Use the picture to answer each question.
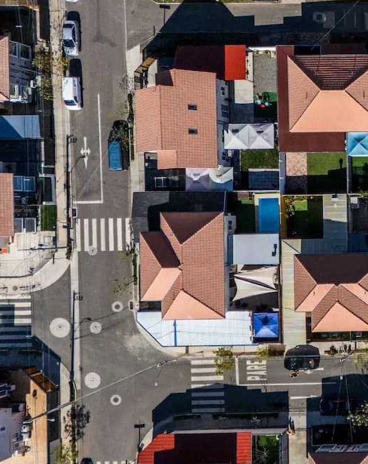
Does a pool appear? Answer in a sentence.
Yes, the photo shows a pool.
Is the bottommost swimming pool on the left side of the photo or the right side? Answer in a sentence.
You can find the bottommost swimming pool on the right side of the picture.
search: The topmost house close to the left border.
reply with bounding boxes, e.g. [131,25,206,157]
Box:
[0,34,36,103]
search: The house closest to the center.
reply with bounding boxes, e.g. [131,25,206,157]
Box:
[138,211,241,321]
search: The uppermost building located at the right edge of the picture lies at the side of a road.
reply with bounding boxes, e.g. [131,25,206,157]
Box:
[288,54,368,133]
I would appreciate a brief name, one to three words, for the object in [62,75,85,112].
vehicle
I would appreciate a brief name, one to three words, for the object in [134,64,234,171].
house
